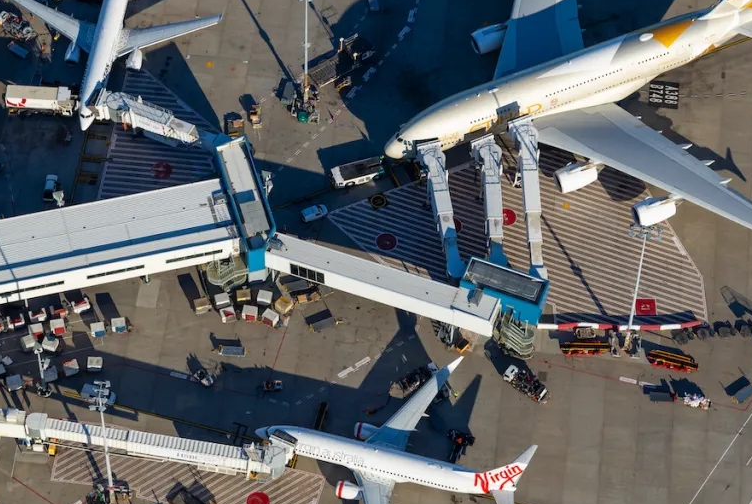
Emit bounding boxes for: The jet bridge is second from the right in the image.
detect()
[465,132,507,266]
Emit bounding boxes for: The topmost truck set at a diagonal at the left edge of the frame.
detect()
[0,11,40,44]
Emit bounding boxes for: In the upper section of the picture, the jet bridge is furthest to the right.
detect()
[502,114,549,279]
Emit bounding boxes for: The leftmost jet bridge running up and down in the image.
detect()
[410,138,463,282]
